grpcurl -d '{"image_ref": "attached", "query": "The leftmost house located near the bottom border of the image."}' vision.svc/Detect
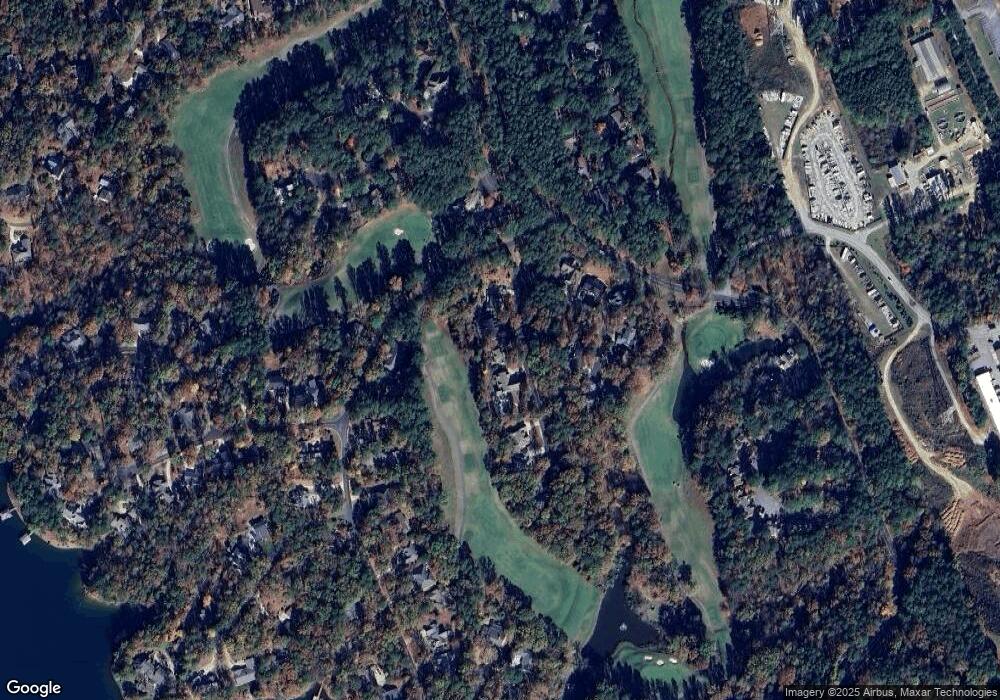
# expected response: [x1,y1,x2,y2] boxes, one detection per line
[130,657,169,700]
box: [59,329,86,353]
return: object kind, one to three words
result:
house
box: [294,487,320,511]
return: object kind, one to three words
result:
house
